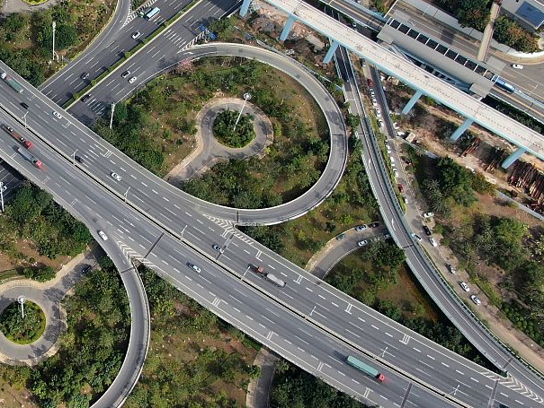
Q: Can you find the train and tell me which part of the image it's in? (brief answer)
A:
top right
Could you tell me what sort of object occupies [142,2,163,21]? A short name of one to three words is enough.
vehicle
